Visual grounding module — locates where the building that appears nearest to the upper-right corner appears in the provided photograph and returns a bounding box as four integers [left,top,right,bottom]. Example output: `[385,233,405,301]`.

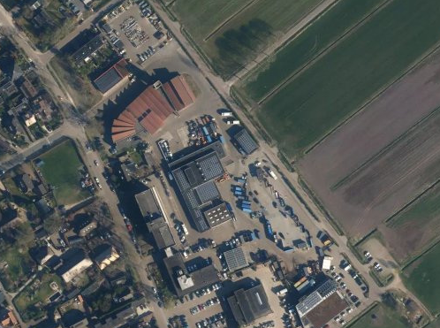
[233,128,260,157]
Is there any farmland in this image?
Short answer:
Yes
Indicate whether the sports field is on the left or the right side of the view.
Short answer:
left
